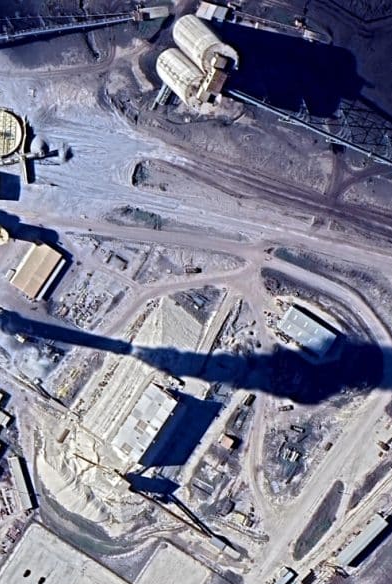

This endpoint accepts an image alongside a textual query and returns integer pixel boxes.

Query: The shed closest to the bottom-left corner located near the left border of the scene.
[8,455,32,511]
